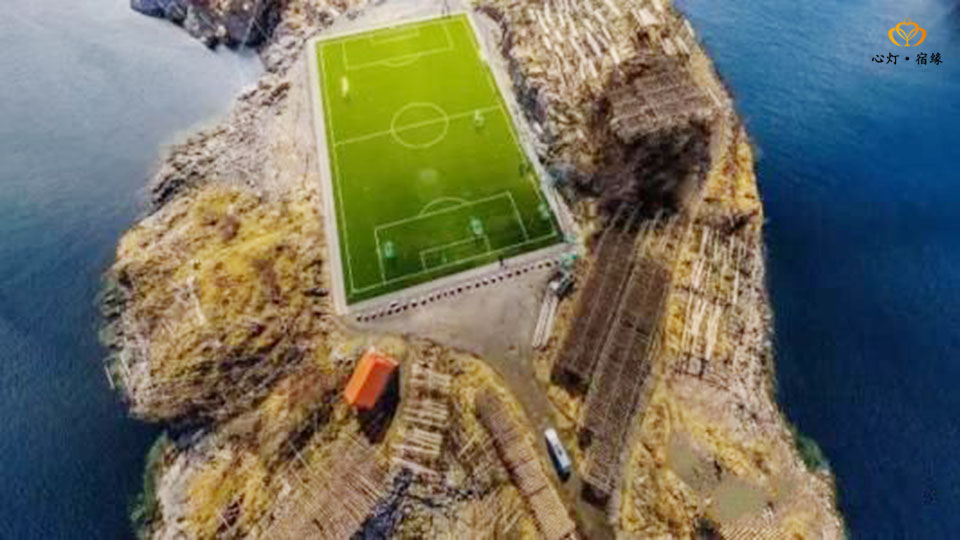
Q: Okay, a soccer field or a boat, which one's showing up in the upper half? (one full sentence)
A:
Looking in the upper half, you will find a soccer field.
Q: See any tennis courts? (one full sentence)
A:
No, there isn't any tennis court down there.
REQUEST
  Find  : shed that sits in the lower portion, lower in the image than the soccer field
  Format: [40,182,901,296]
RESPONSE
[345,349,401,412]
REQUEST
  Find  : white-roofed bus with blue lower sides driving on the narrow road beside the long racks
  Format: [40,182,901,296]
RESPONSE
[544,429,571,478]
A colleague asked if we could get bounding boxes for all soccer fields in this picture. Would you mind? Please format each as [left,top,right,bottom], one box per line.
[309,8,574,313]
